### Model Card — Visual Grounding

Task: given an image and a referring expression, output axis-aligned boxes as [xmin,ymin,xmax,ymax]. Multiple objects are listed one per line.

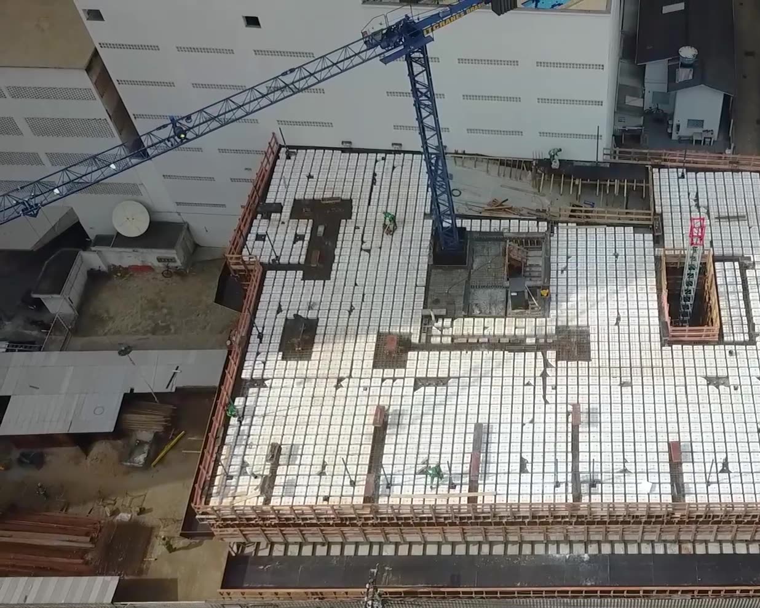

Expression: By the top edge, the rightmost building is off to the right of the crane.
[632,0,735,141]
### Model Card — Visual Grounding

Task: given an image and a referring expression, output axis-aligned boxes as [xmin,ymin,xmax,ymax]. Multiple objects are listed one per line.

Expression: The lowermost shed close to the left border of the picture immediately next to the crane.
[0,331,227,441]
